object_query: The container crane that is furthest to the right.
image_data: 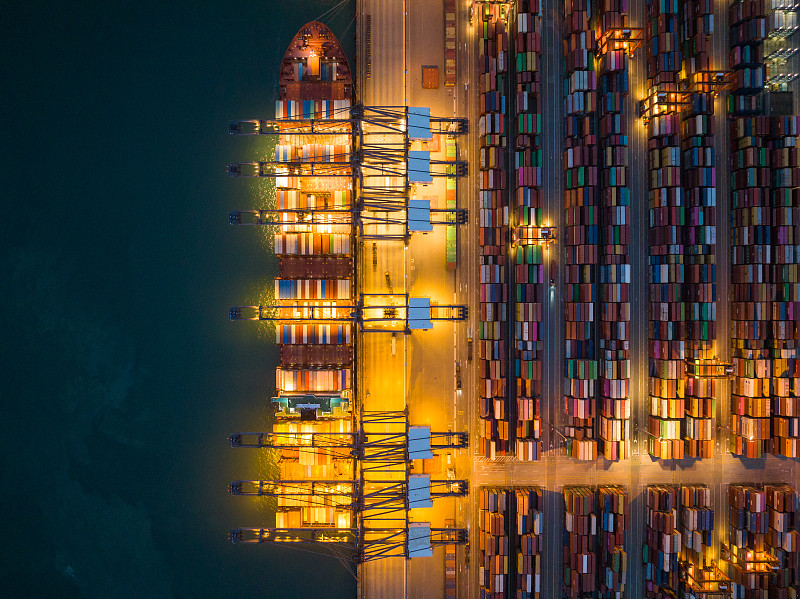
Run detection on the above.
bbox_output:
[722,544,780,573]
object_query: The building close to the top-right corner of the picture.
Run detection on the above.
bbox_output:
[762,91,794,119]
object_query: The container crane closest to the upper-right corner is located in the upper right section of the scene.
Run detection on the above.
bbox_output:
[679,69,733,98]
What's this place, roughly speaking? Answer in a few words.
port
